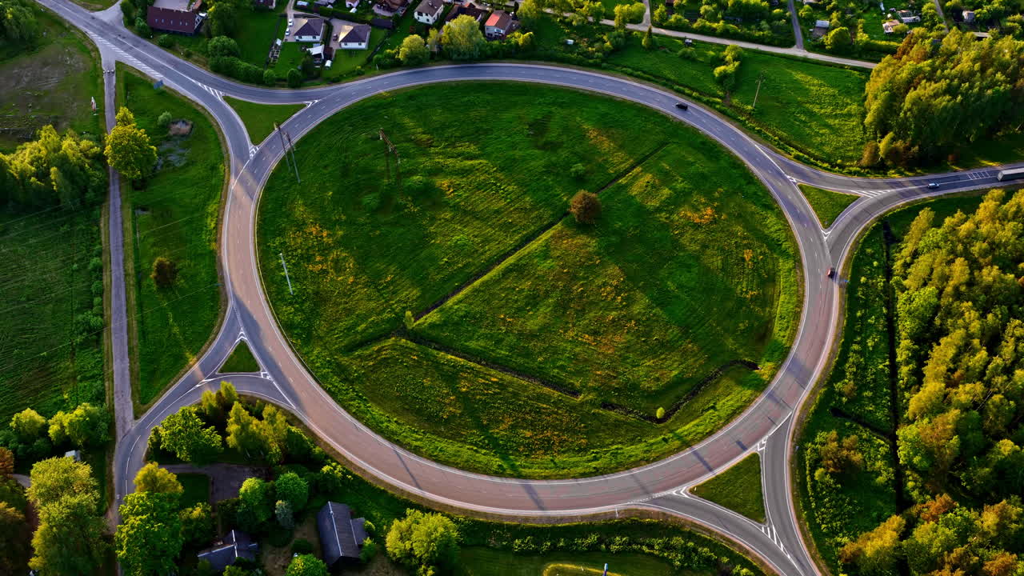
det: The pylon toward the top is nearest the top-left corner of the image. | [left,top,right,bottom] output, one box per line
[272,120,300,182]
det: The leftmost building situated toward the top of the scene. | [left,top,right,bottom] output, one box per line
[145,3,203,36]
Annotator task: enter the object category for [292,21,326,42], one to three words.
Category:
house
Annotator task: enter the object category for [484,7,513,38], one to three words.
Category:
house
